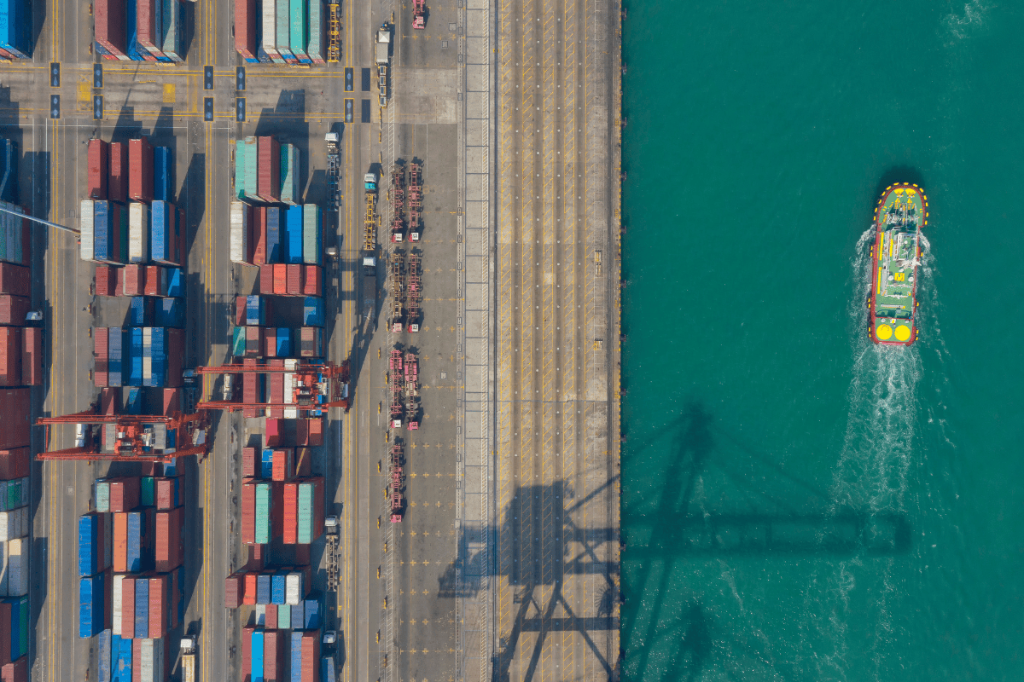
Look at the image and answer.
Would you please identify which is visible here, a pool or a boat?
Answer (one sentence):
The one in the frame is a boat.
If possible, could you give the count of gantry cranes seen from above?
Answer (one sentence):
In total, 2 gantry cranes can be seen.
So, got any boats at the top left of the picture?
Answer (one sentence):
No, no boat is visible at the top left of the picture.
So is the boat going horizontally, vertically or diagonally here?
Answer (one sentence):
The boat has been laid out vertically relative to the frame.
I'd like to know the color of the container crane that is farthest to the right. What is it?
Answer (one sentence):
The color of the container crane that is farthest to the right is red.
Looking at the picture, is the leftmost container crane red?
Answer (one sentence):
Yes, the leftmost container crane is red.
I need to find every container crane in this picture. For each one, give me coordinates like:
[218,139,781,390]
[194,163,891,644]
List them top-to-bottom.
[195,357,352,420]
[36,402,209,466]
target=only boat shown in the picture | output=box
[865,182,929,345]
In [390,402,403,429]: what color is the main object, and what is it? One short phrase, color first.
white vehicle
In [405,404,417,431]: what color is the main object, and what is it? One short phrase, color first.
pink vehicle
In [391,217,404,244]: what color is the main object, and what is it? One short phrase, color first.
white vehicle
